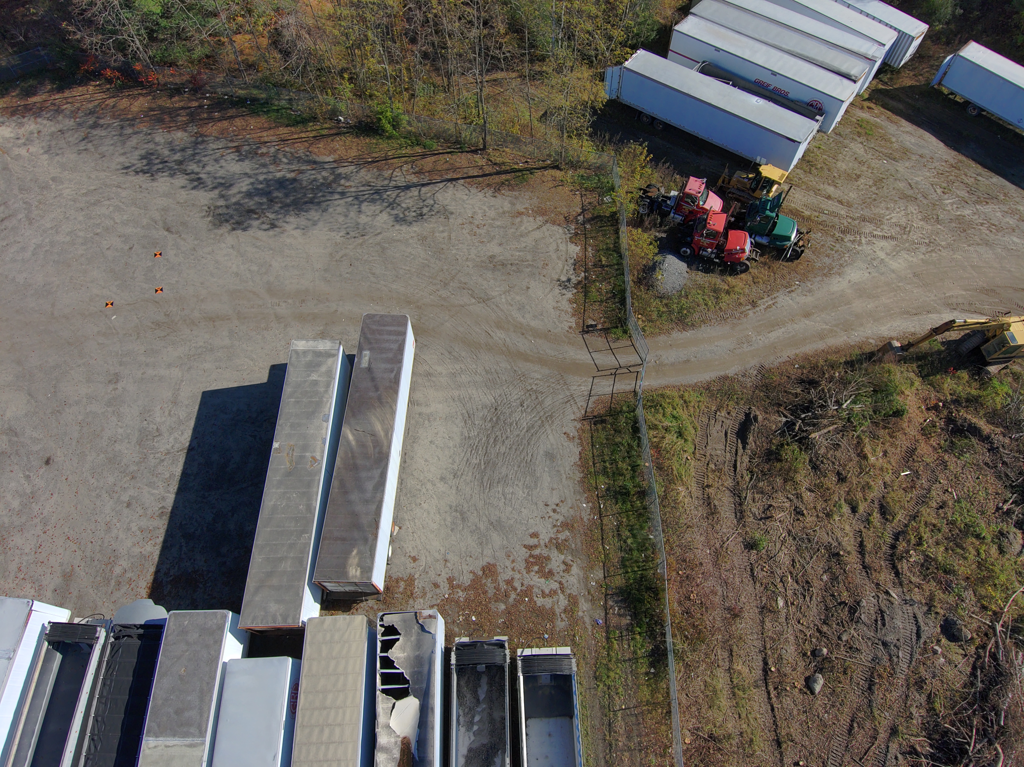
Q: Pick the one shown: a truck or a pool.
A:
truck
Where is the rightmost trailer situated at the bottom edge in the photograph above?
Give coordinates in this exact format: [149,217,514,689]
[517,642,582,767]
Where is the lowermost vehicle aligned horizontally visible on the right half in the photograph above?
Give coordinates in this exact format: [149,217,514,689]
[881,317,1024,382]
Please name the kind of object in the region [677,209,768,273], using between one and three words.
truck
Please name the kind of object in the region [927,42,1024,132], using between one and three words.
trailer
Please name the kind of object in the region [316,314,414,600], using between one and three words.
trailer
